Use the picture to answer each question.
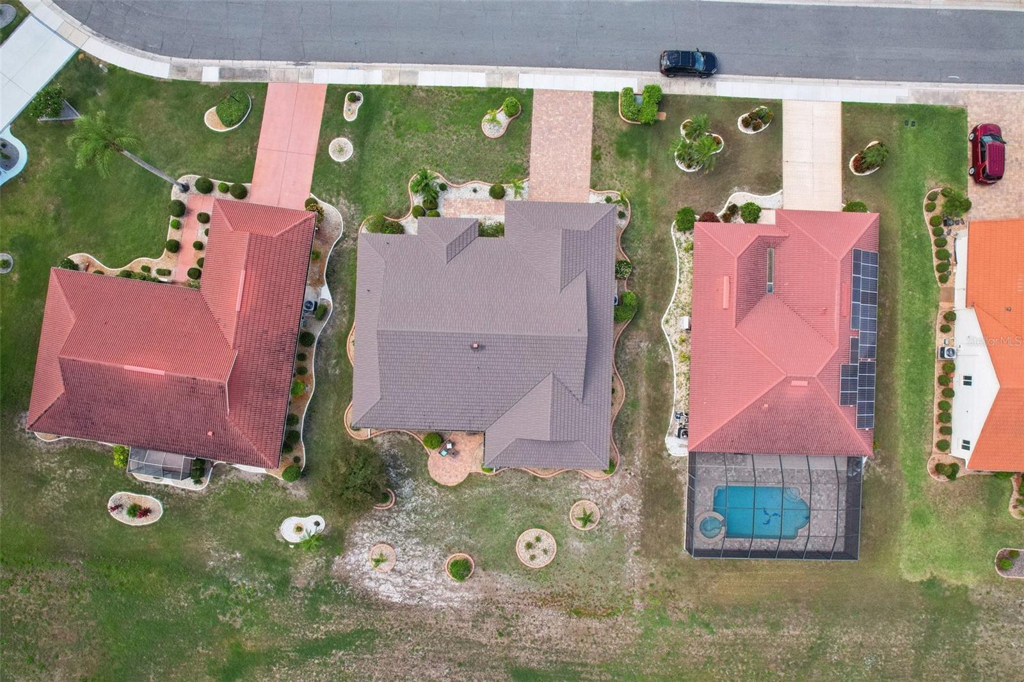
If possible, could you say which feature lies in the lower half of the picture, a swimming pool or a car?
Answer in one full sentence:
The one visible in the lower half of the picture is a swimming pool.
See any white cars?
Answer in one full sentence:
No, there's no white car here.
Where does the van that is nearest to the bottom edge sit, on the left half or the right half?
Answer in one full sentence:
You can find the van that is nearest to the bottom edge on the right side of the picture.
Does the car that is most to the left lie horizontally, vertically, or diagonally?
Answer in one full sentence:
I'd say the car that is most to the left is aligned horizontally in the picture.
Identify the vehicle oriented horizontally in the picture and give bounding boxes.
[658,48,718,78]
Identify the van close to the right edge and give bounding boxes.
[968,124,1003,186]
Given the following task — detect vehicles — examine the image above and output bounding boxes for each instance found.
[658,48,718,78]
[968,124,1003,186]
